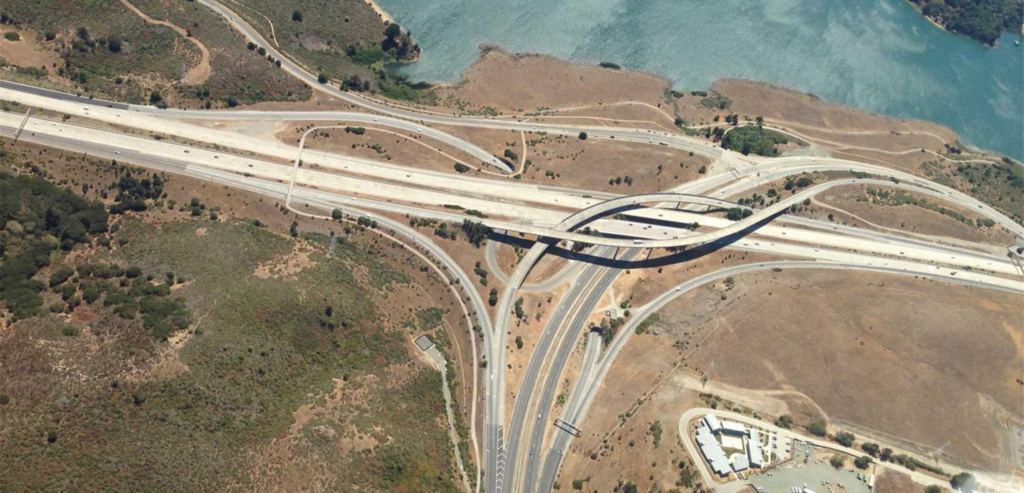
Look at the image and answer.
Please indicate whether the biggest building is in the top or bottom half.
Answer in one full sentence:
It is in the bottom half that the biggest building appears.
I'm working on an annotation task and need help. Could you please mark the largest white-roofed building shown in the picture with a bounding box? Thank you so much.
[696,427,731,476]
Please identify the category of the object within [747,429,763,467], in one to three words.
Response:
building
